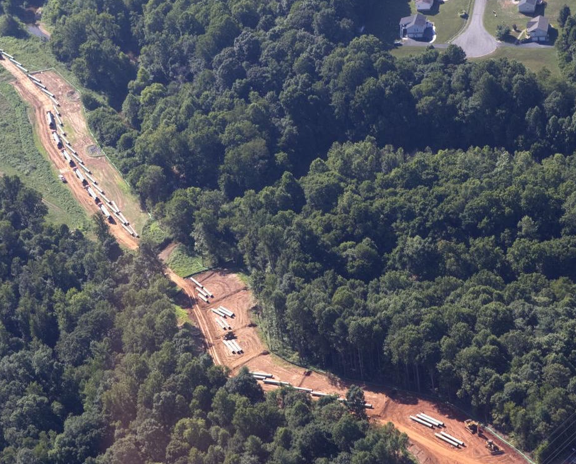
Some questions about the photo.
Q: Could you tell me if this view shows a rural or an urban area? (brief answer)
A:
rural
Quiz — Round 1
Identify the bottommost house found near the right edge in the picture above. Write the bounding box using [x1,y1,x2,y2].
[528,17,555,42]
